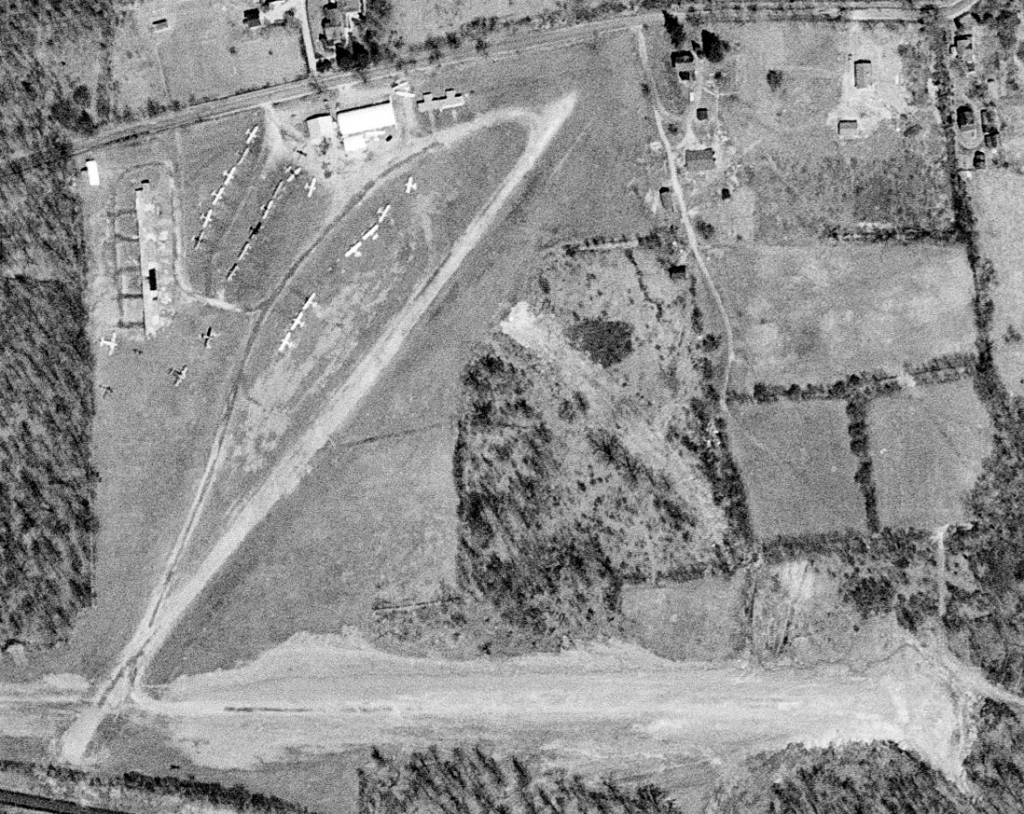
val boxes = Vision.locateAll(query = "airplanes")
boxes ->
[304,178,316,197]
[167,366,187,386]
[100,333,116,355]
[362,225,378,239]
[261,201,273,218]
[296,146,306,160]
[405,177,417,192]
[191,232,204,249]
[223,167,235,184]
[302,293,317,309]
[234,148,248,164]
[377,205,390,222]
[285,165,302,181]
[245,126,258,143]
[200,209,212,227]
[99,383,111,396]
[248,222,261,237]
[238,243,251,260]
[227,264,240,279]
[273,181,286,198]
[211,188,223,204]
[291,312,305,330]
[200,328,212,346]
[279,333,293,351]
[345,241,361,257]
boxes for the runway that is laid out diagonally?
[62,91,576,763]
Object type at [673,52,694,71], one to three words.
house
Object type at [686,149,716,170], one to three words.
barn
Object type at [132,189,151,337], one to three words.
shed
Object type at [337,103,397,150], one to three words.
hangar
